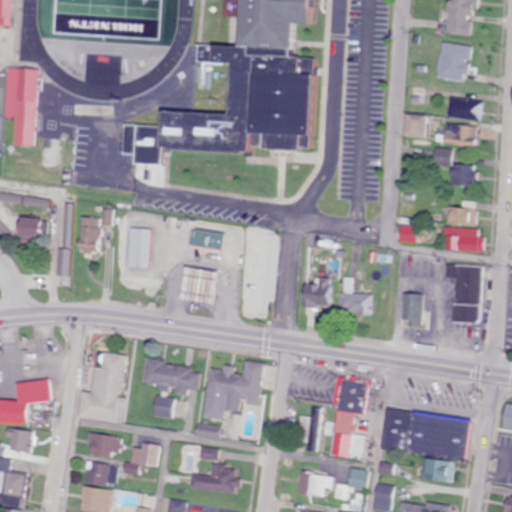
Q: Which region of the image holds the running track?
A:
top left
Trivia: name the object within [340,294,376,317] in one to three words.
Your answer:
house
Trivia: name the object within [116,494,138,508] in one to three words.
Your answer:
swimming pool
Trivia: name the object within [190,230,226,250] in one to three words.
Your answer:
shed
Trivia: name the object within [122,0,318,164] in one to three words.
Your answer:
building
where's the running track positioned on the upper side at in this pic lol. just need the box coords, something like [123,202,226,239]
[21,0,194,102]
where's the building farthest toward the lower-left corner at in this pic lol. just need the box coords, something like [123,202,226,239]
[0,472,30,509]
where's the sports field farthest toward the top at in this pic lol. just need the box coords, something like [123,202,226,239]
[54,0,161,40]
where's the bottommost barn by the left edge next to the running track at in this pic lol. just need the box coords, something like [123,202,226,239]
[5,68,42,147]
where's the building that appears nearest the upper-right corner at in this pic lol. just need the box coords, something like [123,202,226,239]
[445,0,478,36]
